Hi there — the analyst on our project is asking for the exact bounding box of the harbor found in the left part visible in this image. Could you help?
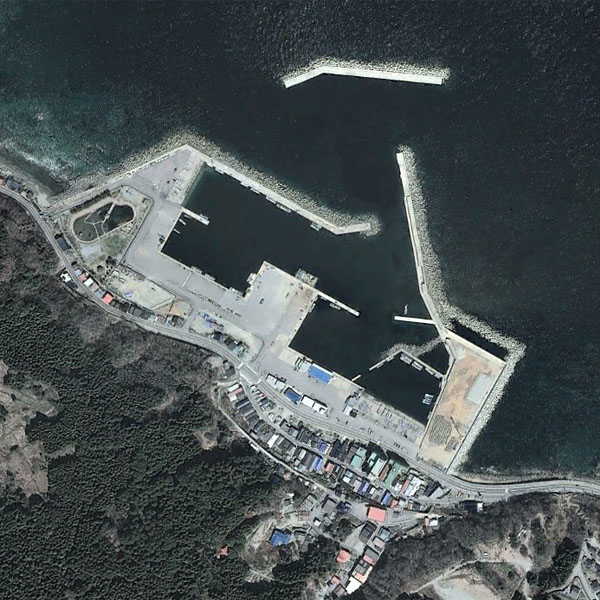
[52,146,424,449]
